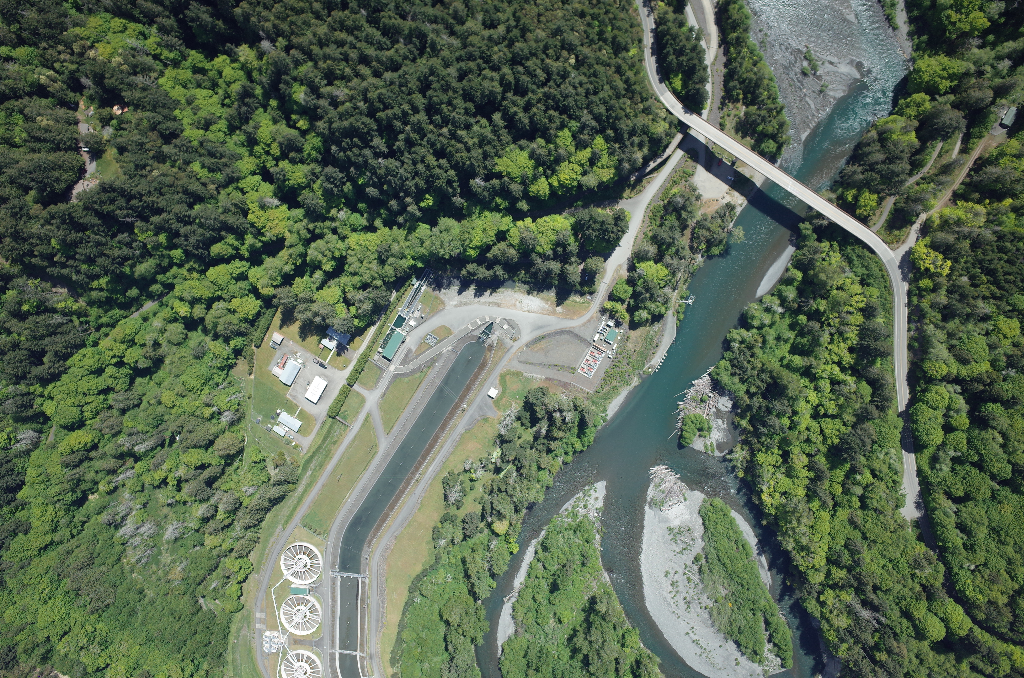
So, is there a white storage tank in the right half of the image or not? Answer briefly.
No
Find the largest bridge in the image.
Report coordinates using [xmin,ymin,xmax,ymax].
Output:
[660,86,896,263]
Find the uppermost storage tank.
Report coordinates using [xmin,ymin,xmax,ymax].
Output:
[281,542,323,585]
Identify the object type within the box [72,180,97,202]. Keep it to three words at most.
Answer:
house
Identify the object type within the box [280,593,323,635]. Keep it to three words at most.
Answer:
storage tank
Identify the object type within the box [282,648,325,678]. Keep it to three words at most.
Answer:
storage tank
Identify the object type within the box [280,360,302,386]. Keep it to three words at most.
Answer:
building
